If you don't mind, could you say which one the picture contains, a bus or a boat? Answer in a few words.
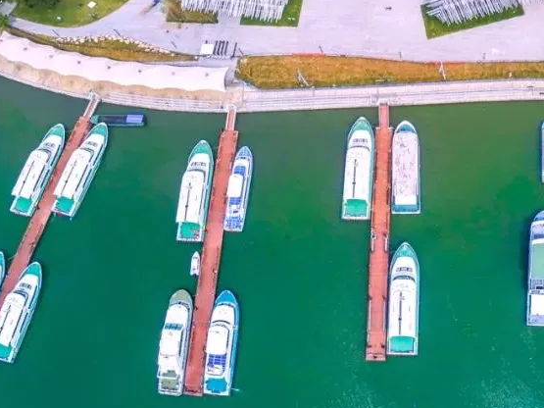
boat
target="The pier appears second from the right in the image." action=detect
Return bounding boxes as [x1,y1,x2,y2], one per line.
[184,101,239,396]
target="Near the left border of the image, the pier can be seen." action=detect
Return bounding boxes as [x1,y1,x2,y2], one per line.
[0,94,101,303]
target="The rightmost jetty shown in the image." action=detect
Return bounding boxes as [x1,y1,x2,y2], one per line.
[365,100,393,361]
